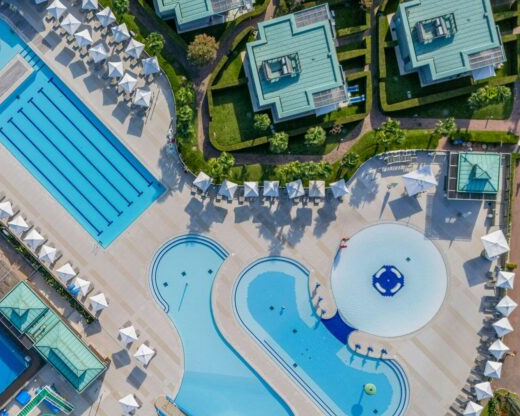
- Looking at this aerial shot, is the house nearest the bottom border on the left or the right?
left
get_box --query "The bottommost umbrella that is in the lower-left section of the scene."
[119,394,140,413]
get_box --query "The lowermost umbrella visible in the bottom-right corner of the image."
[463,400,484,416]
